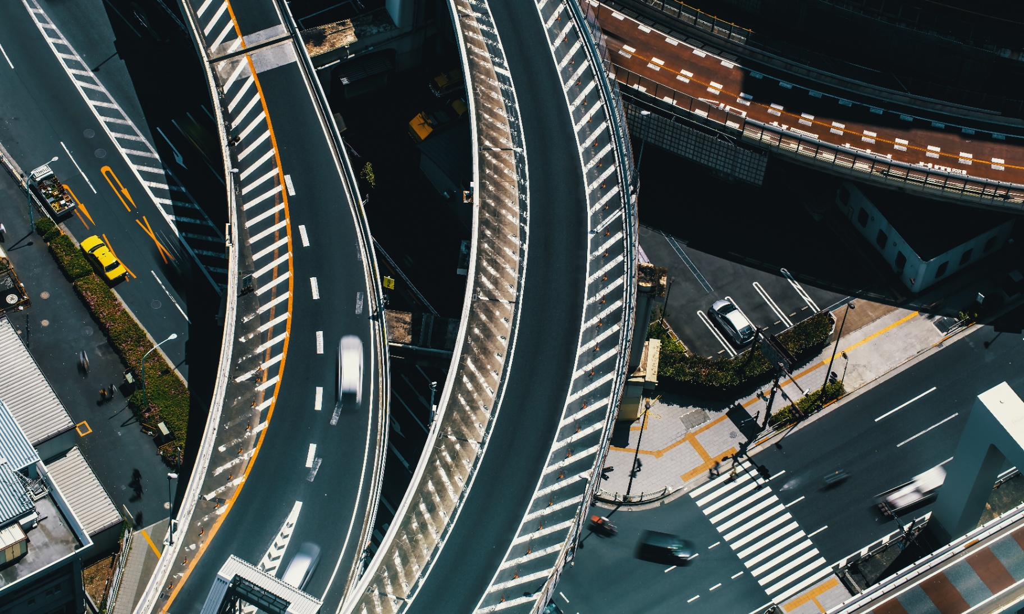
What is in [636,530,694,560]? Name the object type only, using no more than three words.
car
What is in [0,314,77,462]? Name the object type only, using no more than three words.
shed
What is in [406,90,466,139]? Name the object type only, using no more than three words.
truck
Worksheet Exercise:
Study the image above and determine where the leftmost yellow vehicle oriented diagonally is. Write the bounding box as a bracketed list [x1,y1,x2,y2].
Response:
[82,235,126,282]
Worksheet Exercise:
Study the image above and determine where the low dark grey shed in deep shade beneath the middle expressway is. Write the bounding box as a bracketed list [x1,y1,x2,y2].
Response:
[416,118,471,213]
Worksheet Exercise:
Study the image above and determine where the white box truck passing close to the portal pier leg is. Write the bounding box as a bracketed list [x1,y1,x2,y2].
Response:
[882,457,951,516]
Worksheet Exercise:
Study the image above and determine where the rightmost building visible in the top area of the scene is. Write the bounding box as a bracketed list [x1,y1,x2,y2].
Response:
[836,180,1023,289]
